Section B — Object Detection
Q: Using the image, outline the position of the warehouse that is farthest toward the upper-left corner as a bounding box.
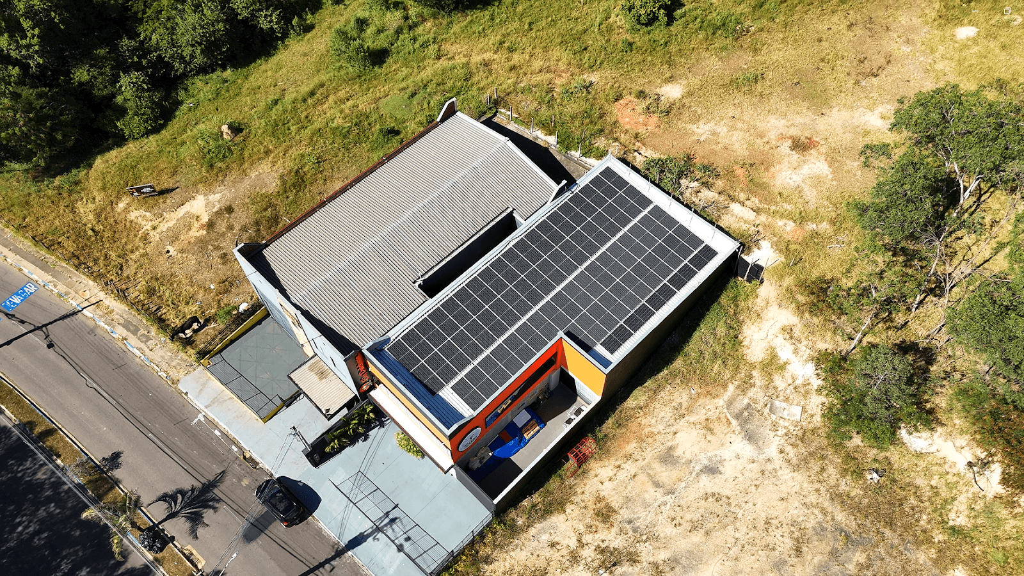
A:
[233,95,569,405]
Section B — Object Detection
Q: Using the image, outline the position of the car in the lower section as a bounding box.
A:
[253,479,309,535]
